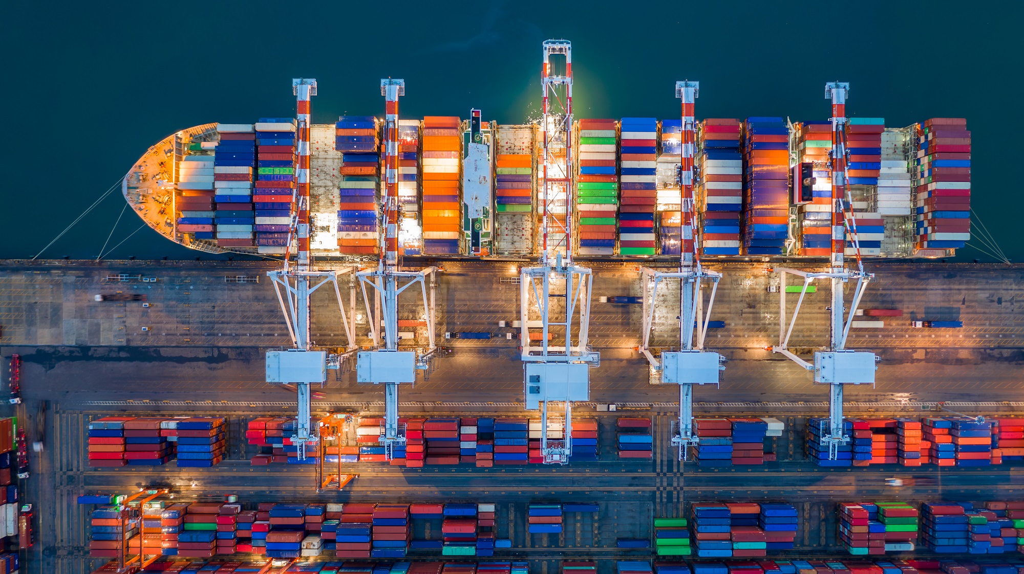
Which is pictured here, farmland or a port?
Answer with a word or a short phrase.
port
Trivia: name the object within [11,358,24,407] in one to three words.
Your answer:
vehicle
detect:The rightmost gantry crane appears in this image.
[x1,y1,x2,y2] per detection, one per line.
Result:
[749,80,885,461]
